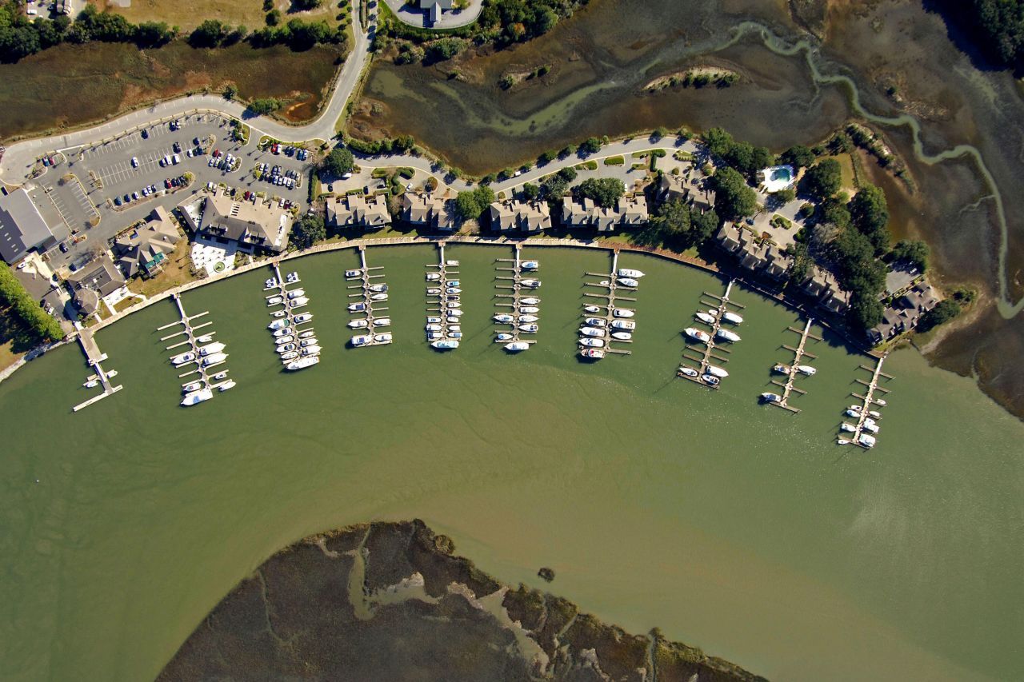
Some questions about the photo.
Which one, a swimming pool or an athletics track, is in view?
swimming pool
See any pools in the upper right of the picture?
Yes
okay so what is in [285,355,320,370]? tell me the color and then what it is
white boat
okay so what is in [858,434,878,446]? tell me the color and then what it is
white boat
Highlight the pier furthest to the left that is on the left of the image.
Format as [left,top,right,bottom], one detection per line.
[73,327,122,412]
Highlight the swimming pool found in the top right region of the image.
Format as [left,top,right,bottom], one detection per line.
[764,165,797,192]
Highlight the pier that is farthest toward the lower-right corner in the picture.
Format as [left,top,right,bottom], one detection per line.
[841,354,893,449]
